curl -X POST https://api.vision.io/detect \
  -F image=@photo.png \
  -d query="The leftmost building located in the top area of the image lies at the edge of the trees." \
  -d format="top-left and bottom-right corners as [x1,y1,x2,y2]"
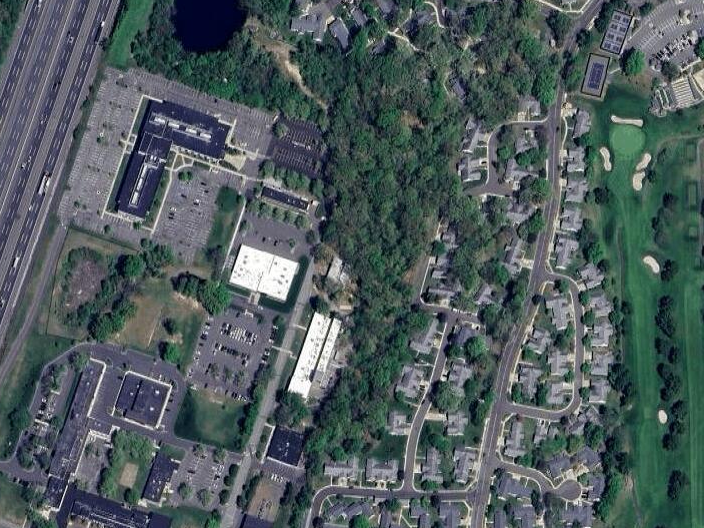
[117,98,231,223]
